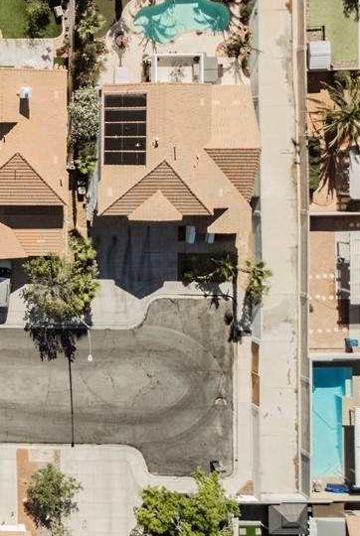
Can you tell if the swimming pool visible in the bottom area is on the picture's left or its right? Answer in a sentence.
The swimming pool visible in the bottom area sits on the right side.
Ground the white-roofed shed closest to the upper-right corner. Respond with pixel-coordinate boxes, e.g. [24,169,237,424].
[308,40,333,70]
